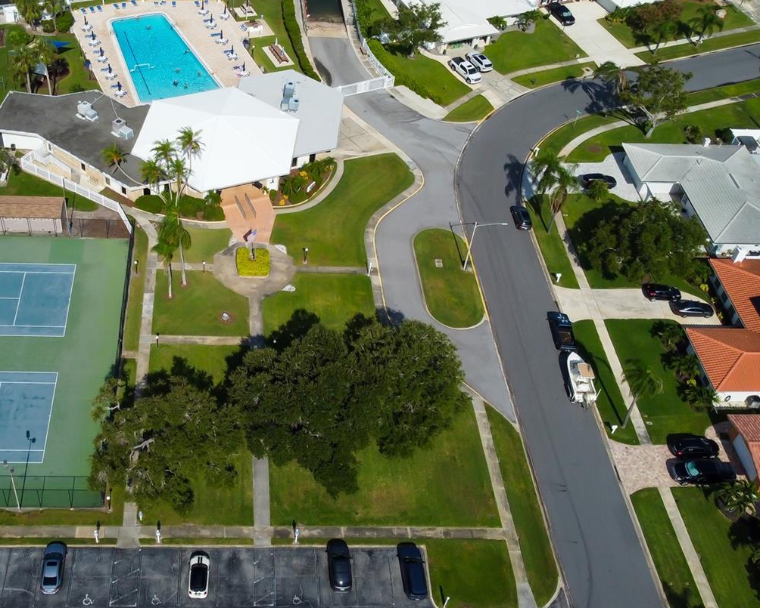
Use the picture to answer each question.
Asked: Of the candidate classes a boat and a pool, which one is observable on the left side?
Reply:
pool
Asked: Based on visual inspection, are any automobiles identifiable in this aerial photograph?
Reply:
Yes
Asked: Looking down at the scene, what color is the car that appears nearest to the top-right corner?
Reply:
black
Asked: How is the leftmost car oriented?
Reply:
vertically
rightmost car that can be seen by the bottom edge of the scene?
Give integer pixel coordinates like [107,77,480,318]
[397,543,431,599]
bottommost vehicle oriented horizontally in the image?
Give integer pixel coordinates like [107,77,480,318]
[674,459,739,485]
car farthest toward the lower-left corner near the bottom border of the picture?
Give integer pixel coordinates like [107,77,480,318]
[40,540,66,593]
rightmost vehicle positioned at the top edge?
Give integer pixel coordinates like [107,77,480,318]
[550,1,576,22]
